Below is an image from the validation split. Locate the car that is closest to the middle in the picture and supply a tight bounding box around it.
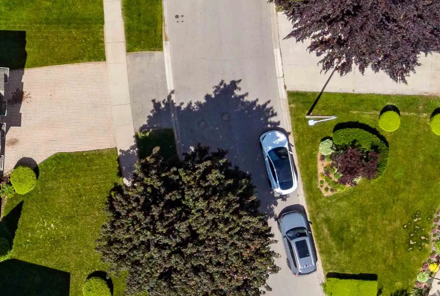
[258,129,298,196]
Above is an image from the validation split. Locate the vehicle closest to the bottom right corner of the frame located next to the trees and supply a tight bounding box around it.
[277,209,315,275]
